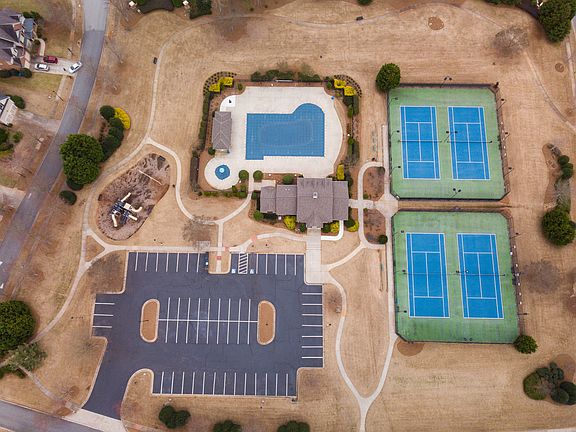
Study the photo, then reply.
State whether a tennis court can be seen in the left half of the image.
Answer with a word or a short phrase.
No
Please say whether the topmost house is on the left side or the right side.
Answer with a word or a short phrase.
left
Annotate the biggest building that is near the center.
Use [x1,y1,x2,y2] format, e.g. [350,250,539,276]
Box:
[259,178,349,228]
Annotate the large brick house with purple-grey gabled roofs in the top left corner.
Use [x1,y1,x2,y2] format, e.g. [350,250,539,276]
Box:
[0,2,38,69]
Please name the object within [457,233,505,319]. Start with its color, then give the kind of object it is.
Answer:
blue tennis court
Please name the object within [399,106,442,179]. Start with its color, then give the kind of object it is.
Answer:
blue tennis court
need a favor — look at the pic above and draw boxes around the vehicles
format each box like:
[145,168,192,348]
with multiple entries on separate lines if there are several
[43,55,58,63]
[34,63,49,70]
[67,61,83,73]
